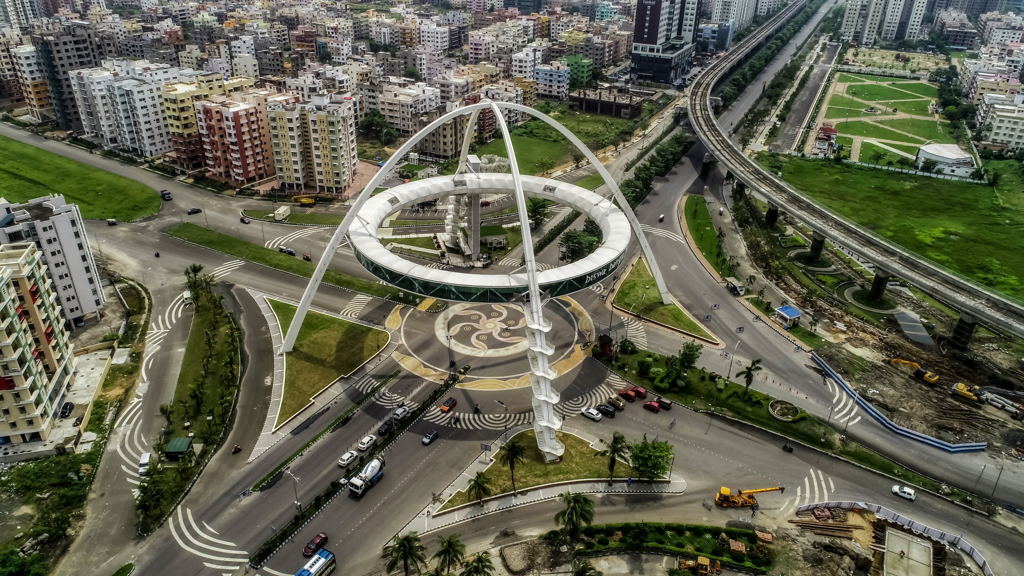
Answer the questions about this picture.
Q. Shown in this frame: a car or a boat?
car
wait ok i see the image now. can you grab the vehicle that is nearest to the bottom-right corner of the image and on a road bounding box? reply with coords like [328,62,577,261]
[893,485,917,499]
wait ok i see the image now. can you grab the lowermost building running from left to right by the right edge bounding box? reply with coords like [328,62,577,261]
[907,141,997,182]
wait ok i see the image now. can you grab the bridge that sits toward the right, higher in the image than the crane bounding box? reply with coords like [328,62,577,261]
[688,0,1024,355]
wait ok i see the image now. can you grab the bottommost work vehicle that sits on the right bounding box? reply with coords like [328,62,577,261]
[678,554,724,576]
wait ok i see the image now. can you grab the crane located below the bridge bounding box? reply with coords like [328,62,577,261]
[717,487,788,509]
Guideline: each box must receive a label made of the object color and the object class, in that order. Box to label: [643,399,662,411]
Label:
red vehicle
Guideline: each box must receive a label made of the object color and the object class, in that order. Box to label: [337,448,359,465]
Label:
white car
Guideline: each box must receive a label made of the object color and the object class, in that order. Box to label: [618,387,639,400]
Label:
red vehicle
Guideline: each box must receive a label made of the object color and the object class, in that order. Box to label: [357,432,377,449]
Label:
white car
